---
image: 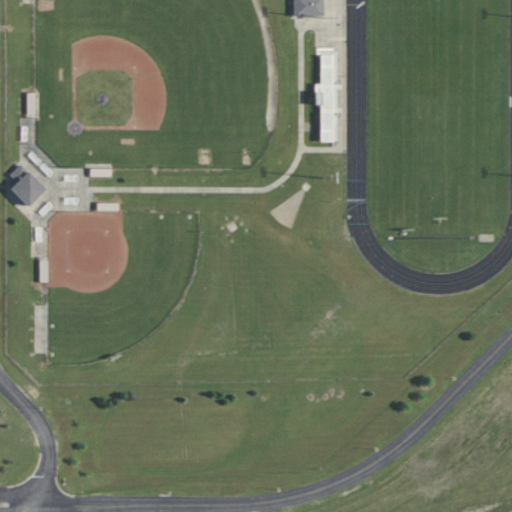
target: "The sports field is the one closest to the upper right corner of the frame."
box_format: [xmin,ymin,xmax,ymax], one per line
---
[366,0,510,274]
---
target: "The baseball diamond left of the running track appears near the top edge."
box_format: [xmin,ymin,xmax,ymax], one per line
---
[34,0,276,169]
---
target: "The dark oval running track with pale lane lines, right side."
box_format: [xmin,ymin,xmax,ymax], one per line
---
[346,0,512,295]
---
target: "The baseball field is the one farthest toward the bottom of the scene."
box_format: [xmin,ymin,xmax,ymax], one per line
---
[48,211,201,364]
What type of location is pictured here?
sports ground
